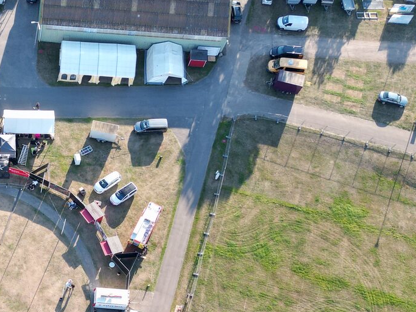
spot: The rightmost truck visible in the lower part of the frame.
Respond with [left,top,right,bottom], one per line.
[127,204,161,253]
